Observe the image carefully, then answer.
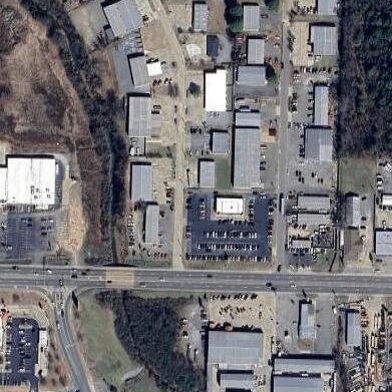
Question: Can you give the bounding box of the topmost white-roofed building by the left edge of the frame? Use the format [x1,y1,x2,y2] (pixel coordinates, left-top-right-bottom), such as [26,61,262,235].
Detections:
[0,158,55,204]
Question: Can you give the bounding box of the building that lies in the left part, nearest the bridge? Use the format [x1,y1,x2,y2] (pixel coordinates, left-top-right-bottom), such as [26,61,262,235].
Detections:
[145,204,159,244]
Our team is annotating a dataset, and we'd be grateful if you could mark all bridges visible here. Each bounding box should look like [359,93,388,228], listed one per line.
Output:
[106,268,135,291]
